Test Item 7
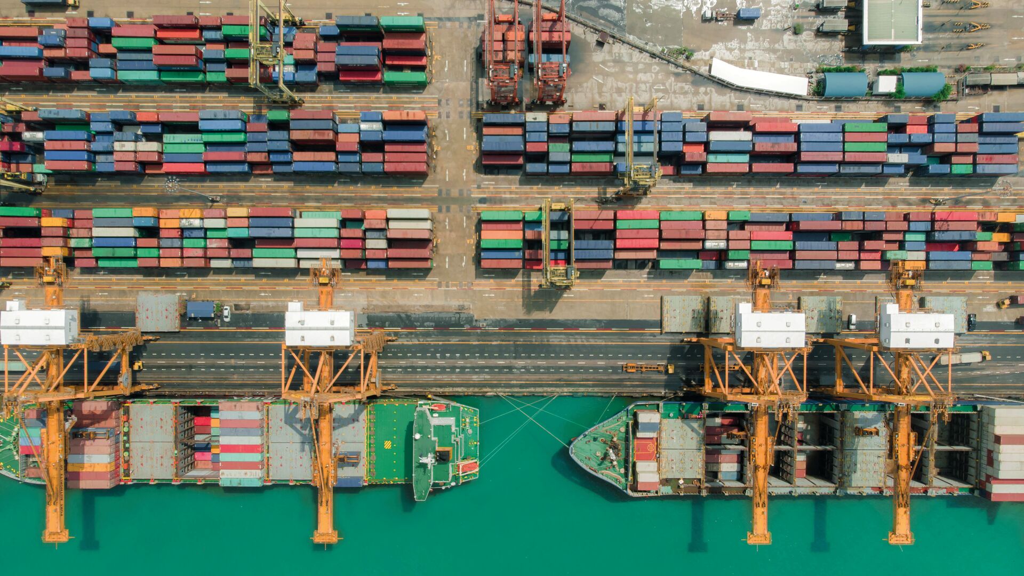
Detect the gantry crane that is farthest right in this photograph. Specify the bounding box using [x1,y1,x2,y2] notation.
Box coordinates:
[805,258,955,551]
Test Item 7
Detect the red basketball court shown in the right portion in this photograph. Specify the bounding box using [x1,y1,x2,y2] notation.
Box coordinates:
[633,436,657,460]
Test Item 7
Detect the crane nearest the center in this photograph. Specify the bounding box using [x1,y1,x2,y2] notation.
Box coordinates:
[536,197,579,288]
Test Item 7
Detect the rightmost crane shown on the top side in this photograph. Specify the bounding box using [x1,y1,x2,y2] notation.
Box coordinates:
[611,93,661,192]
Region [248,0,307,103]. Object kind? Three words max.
container crane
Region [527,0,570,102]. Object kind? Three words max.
container crane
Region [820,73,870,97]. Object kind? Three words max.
shed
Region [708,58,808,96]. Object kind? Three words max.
shed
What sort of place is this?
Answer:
port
